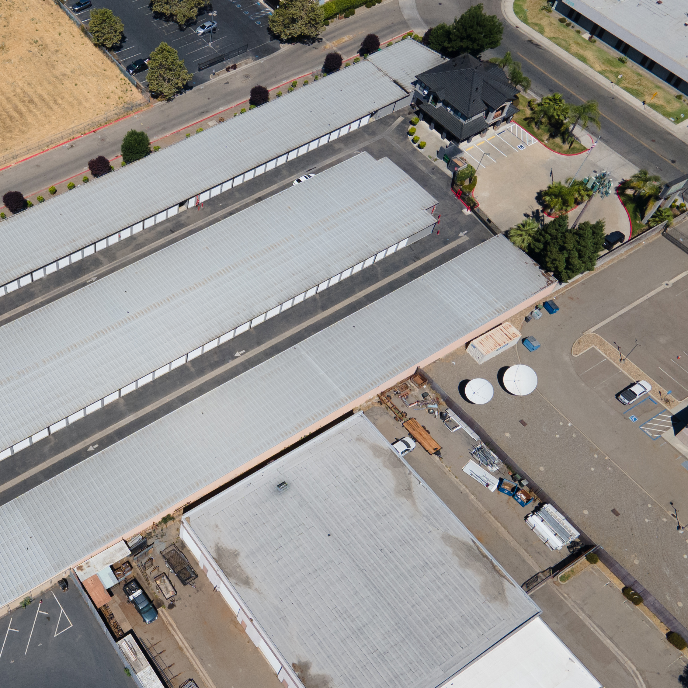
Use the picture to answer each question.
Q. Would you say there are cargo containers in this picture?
Yes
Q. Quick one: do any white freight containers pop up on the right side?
Yes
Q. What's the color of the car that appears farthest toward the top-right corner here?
black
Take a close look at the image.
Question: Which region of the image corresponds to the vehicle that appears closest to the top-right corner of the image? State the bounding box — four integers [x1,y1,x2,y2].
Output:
[601,231,627,252]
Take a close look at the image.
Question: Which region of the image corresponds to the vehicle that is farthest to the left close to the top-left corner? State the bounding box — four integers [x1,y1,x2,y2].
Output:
[69,0,95,15]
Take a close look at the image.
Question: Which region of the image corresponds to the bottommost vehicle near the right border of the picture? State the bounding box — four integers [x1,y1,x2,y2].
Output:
[612,380,655,409]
